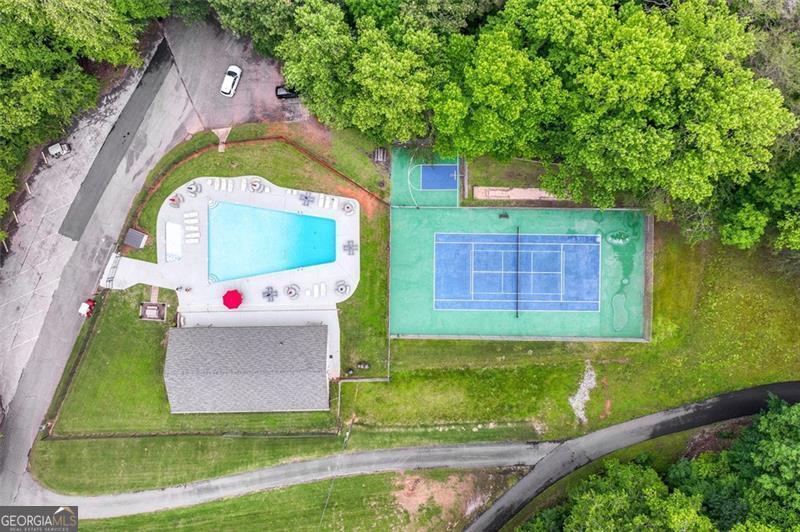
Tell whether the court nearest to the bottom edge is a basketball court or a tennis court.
tennis court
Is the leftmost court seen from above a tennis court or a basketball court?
basketball court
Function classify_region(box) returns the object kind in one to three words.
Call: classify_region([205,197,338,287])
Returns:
swimming pool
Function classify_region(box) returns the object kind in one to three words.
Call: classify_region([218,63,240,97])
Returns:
car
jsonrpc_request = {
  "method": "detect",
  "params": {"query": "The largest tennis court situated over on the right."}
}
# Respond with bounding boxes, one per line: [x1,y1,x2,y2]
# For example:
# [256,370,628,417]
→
[390,207,650,342]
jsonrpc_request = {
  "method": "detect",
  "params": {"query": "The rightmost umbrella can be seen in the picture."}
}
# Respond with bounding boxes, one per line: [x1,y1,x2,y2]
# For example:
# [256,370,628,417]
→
[223,289,243,309]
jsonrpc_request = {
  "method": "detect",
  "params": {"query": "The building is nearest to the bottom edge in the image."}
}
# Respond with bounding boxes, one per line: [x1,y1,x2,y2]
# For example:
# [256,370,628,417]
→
[163,322,330,415]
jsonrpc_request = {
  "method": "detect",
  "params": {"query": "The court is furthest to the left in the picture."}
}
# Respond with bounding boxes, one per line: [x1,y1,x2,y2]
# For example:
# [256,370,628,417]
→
[391,147,460,207]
